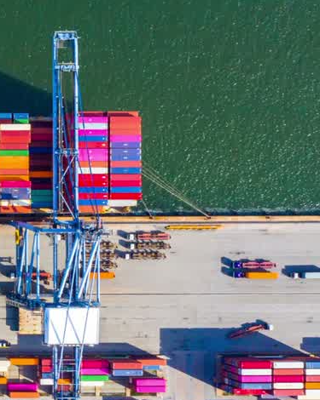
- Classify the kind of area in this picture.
port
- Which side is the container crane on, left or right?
left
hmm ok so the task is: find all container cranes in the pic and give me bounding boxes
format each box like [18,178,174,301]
[0,31,114,400]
